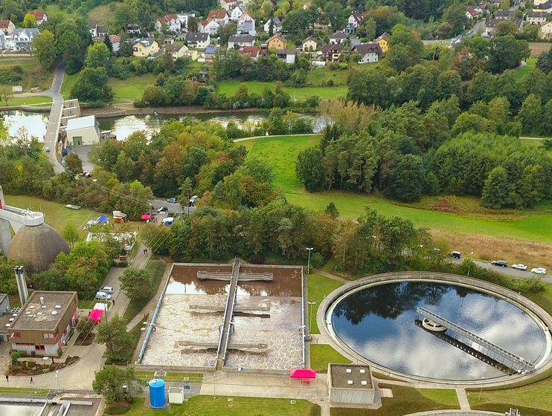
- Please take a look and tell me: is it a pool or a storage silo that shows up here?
storage silo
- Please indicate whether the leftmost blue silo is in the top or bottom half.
bottom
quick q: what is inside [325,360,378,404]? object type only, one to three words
building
